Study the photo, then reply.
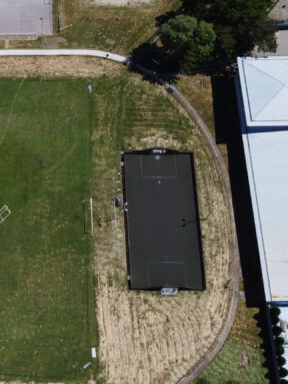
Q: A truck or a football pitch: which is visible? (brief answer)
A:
football pitch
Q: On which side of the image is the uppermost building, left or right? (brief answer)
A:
right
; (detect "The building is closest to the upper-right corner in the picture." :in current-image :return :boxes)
[232,58,288,140]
